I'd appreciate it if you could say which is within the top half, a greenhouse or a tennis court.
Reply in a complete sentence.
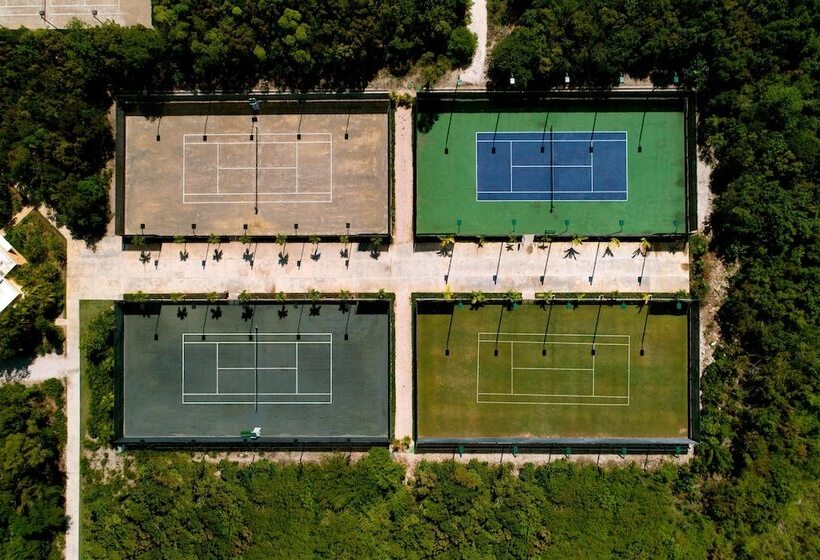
Looking within the top half, you will find a tennis court.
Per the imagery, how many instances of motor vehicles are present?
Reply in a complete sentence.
The picture shows no motor vehicles.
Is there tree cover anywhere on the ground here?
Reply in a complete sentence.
Yes, tree cover can be seen from above here.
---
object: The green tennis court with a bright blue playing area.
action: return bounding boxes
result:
[416,99,687,234]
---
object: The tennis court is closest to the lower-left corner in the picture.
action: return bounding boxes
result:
[123,301,388,437]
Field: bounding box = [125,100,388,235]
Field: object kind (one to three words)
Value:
tennis court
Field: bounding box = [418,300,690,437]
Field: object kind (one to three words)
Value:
tennis court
